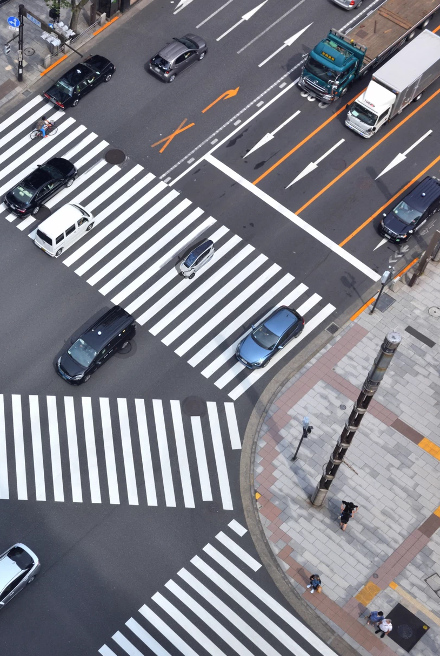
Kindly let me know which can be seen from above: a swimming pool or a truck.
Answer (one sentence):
I can see a truck in this picture.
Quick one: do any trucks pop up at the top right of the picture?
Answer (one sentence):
Yes, there is a truck at the top right of the picture.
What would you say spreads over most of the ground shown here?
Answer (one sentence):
The scene is dominated by paved ground.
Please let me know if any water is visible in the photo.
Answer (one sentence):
No, the scene doesn't show any water.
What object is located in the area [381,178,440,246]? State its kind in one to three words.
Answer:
car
